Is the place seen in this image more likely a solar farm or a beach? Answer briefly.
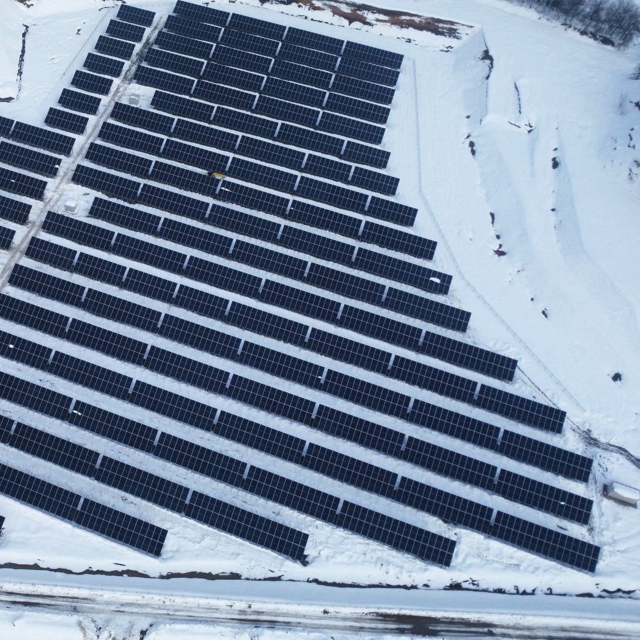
solar farm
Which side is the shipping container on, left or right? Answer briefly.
right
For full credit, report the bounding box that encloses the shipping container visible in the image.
[603,481,640,509]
